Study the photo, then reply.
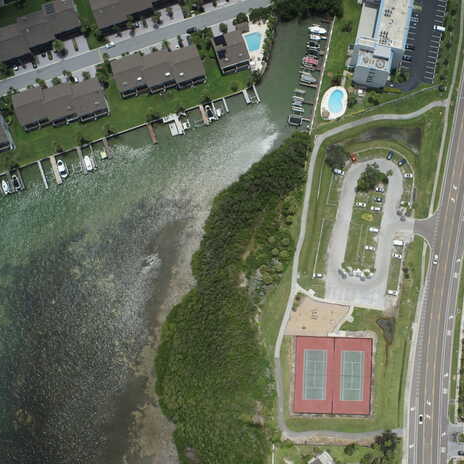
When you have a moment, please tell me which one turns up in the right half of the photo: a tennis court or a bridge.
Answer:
tennis court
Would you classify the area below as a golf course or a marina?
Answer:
marina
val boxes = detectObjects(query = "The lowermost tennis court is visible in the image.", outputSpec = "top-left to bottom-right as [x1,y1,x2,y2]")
[294,337,372,415]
